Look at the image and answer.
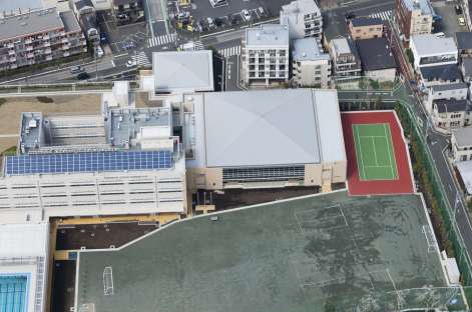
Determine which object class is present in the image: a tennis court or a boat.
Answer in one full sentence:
This aerial view contains a tennis court.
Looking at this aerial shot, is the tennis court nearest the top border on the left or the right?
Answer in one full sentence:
It is on the right.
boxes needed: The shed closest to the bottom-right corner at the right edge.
[443,258,460,286]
